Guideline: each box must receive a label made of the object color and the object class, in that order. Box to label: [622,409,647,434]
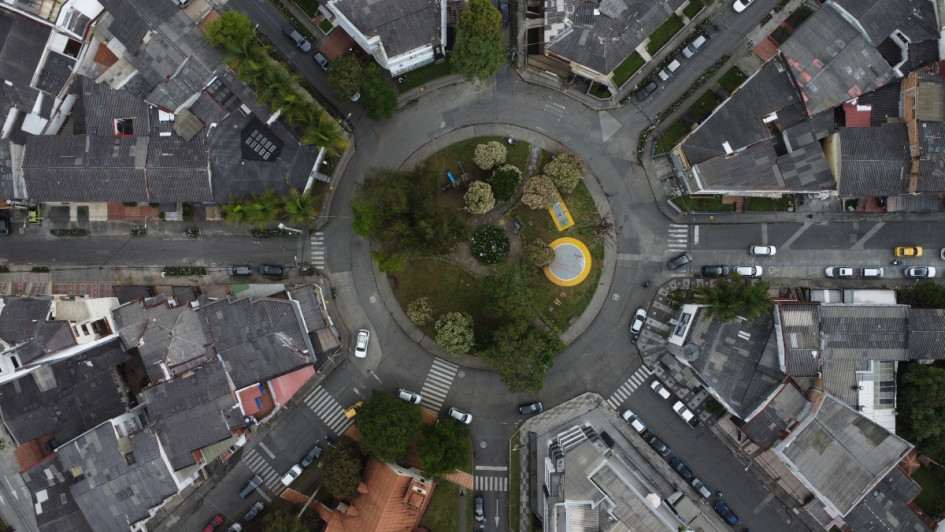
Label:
white car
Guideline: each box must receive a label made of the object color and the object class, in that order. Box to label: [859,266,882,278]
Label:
white vehicle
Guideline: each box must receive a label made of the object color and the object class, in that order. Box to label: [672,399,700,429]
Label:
white truck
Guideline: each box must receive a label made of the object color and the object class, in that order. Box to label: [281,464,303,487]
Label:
white car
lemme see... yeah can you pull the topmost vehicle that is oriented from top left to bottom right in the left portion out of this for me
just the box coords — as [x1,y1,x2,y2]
[282,23,311,54]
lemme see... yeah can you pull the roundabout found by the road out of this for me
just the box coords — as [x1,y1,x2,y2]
[302,55,686,449]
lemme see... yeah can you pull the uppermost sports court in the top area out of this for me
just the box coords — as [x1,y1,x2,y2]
[545,190,575,231]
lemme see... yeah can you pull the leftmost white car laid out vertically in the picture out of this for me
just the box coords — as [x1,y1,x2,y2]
[355,330,370,357]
